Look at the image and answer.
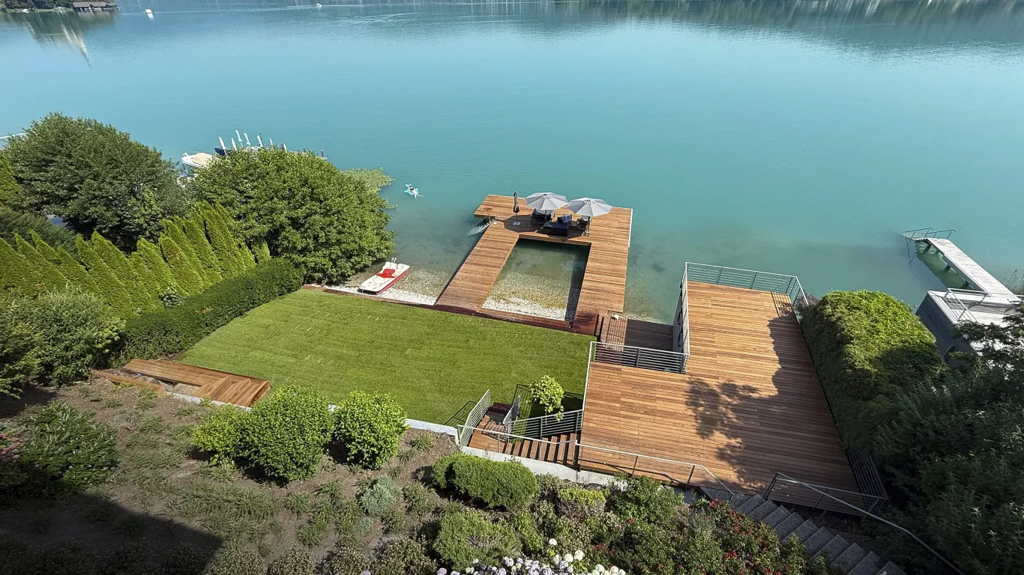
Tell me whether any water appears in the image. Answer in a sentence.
Yes, water can be seen from above here.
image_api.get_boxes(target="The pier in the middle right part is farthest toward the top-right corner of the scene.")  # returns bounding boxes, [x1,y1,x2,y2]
[893,223,1024,303]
